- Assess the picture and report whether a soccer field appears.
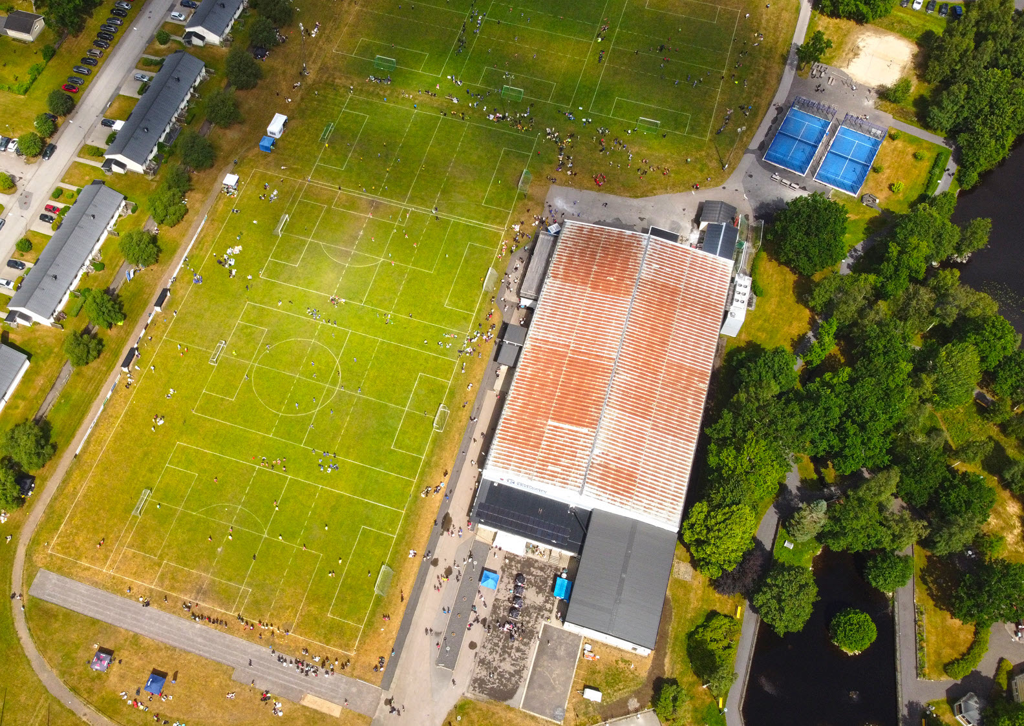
Yes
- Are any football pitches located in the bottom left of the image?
Yes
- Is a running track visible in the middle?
No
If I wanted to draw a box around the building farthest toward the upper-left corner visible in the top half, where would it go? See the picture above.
[4,10,43,39]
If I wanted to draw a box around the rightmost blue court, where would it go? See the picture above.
[812,112,882,196]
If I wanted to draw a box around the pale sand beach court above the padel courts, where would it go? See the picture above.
[848,28,915,85]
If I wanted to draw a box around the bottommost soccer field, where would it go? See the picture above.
[113,442,404,653]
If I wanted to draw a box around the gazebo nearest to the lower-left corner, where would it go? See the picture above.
[90,652,116,674]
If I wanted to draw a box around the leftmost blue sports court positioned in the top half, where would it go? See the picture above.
[763,94,834,177]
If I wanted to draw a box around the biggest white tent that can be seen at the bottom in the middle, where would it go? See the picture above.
[493,531,527,557]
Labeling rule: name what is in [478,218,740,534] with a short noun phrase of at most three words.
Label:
building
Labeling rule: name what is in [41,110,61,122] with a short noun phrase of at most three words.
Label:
vehicle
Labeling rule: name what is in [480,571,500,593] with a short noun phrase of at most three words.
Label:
gazebo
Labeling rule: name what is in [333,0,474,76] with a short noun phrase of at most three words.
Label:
soccer field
